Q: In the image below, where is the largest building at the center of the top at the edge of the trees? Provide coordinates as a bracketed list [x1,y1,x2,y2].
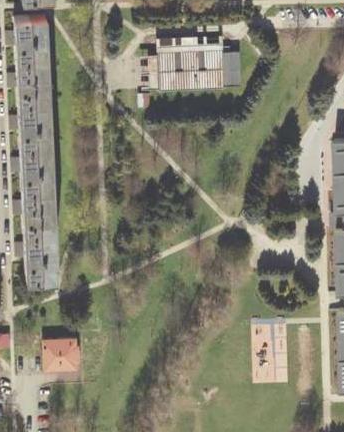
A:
[139,36,240,90]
